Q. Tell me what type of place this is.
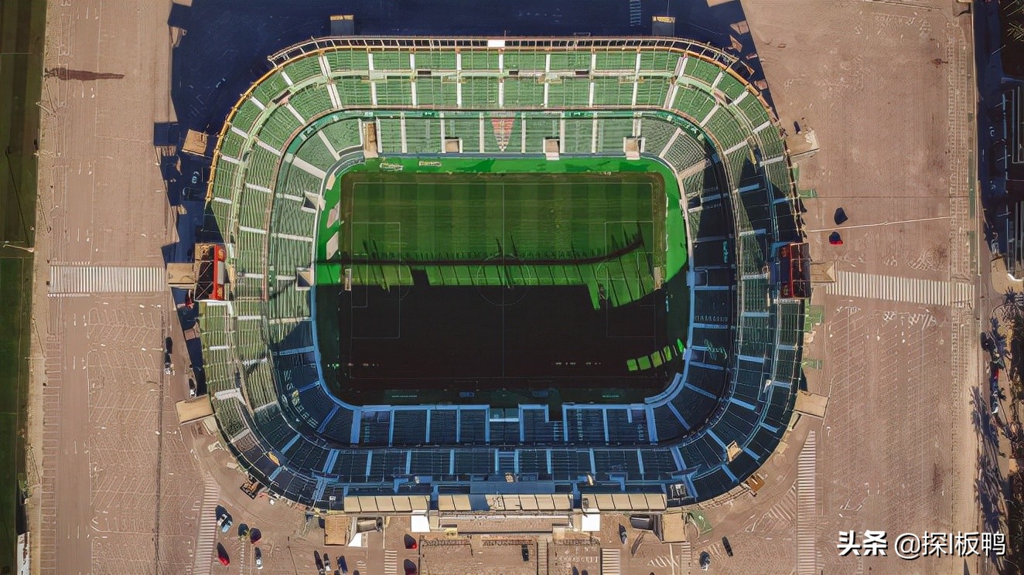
sports ground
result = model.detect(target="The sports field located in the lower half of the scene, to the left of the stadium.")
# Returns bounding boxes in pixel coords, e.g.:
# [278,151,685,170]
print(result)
[0,258,34,575]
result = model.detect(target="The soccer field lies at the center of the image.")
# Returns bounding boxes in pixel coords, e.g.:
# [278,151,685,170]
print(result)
[316,158,691,405]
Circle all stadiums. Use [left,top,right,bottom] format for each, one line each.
[167,15,835,552]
